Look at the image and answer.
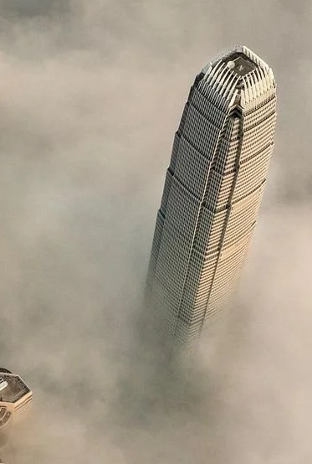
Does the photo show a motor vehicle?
No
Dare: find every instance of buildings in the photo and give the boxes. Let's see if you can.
[129,43,284,460]
[0,362,32,464]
